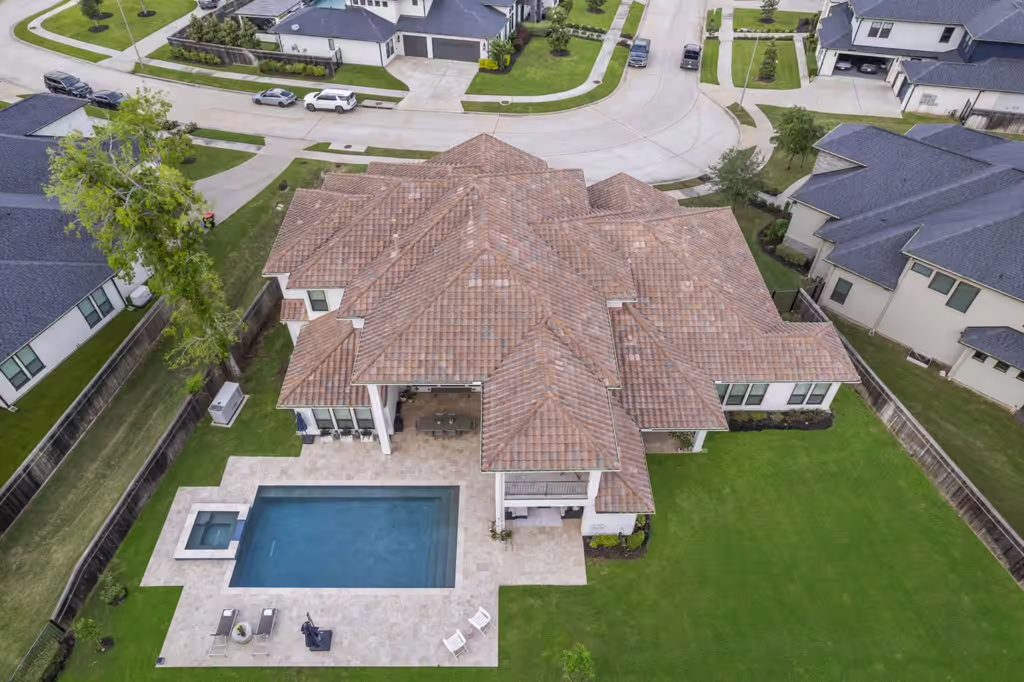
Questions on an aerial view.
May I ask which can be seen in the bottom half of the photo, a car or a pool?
pool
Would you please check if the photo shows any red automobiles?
No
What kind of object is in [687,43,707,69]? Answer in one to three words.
vehicle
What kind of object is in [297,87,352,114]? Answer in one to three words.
car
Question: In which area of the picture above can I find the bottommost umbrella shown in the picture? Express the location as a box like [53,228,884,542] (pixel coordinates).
[300,606,334,650]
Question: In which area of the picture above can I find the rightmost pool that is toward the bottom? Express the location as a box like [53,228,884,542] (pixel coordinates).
[220,480,466,594]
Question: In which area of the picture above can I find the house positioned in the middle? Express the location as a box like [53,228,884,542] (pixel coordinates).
[260,131,864,536]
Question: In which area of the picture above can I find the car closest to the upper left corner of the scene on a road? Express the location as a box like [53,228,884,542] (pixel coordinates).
[42,68,97,98]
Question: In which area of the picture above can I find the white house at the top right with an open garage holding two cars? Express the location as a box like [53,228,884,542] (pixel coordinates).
[802,0,1024,120]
